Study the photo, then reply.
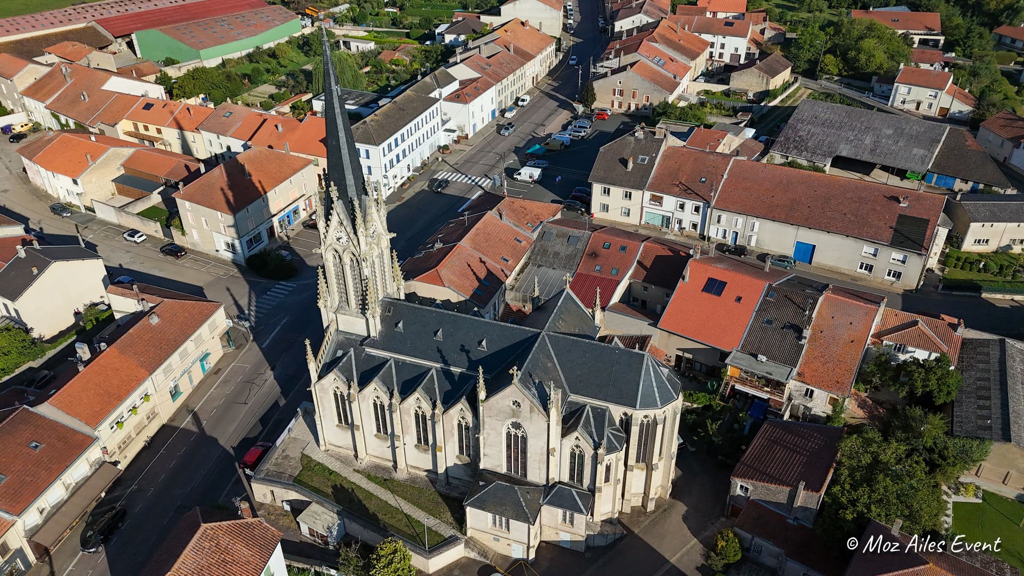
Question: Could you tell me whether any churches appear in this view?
Yes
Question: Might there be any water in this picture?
No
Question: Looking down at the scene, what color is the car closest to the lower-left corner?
black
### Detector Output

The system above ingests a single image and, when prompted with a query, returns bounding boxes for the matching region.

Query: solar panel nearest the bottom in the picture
[701,276,727,297]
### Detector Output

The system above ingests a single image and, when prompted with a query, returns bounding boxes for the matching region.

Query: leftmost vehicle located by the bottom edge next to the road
[74,497,128,551]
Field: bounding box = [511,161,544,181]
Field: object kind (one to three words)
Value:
vehicle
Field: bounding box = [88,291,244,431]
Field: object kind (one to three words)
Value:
building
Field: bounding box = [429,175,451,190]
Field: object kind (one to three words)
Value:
car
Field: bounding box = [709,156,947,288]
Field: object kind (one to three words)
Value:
house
